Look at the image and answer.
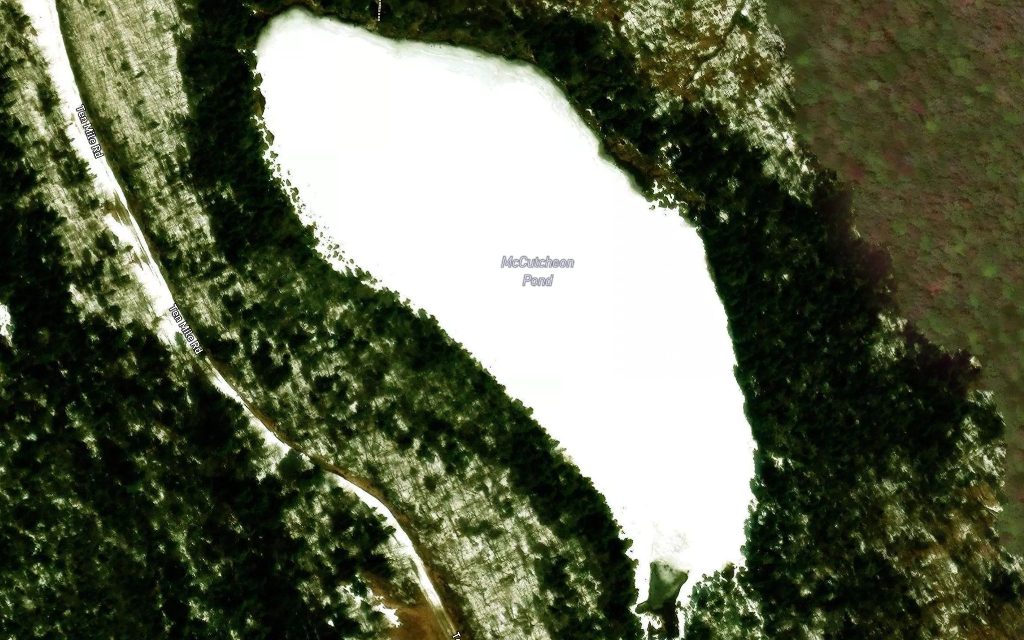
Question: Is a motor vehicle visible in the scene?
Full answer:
No, the photo shows no motor vehicle.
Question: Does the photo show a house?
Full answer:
No, no house is visible in the view.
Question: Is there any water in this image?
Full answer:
Yes, the picture does contain water.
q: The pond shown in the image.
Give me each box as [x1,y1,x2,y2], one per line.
[255,8,756,640]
